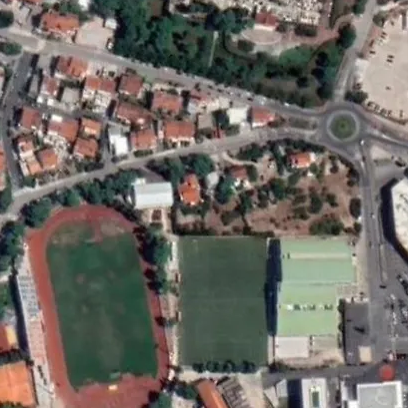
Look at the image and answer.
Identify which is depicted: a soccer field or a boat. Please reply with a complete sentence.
I can see a soccer field in this picture.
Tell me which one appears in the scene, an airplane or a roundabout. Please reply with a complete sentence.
Looking from above, you can make out a roundabout.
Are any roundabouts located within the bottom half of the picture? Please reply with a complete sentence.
No, looking within the bottom half of the picture, there is no roundabout.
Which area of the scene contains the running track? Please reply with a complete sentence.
The running track is located in the bottom left region of the scene.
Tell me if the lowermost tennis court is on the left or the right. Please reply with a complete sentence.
The lowermost tennis court appears in the left half of the scene.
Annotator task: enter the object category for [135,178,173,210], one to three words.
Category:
building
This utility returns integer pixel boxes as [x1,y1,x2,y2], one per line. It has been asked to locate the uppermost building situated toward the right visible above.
[254,12,280,31]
